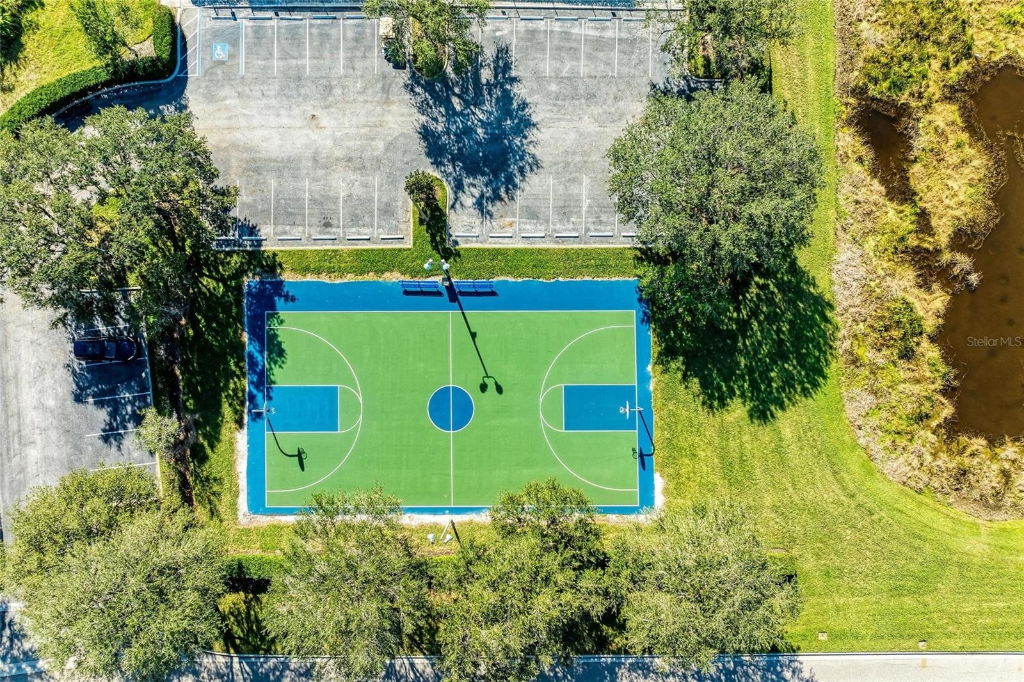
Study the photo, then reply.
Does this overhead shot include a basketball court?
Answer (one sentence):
Yes, you can see a basketball court in this photo.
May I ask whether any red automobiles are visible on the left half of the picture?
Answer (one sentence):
No, on the left half of the picture there is no red automobile.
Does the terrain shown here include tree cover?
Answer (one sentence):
Yes, some tree cover is visible.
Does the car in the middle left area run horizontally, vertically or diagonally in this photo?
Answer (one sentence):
I'd say the car in the middle left area is aligned horizontally in the picture.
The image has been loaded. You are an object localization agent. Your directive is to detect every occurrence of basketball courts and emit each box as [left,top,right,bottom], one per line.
[247,277,655,515]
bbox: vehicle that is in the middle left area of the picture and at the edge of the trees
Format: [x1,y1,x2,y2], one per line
[76,335,139,363]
